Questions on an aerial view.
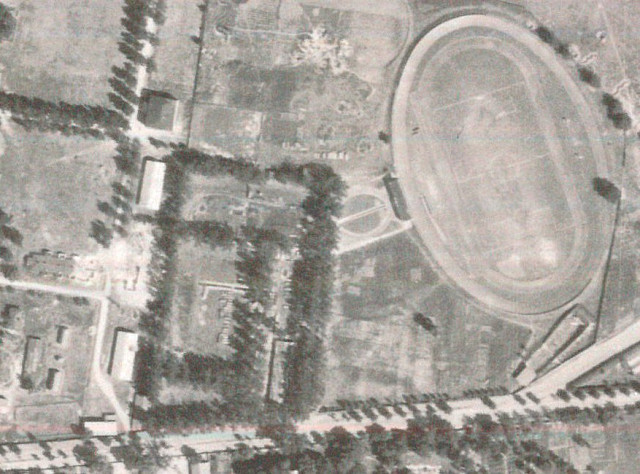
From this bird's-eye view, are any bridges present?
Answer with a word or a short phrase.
No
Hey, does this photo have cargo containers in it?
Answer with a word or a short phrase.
No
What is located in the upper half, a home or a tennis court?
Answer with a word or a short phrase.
home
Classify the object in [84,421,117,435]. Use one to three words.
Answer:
shed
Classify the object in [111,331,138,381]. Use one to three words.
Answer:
building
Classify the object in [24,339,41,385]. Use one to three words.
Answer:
barn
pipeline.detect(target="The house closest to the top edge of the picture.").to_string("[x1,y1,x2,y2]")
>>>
[139,95,176,130]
